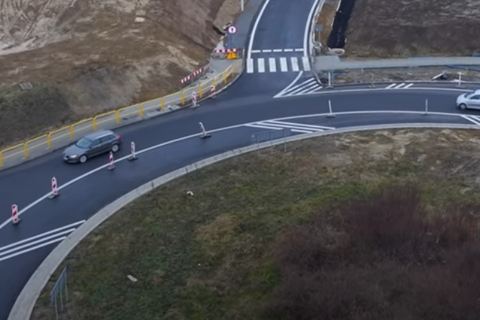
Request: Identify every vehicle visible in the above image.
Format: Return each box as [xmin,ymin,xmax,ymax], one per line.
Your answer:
[61,127,124,163]
[455,88,480,110]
